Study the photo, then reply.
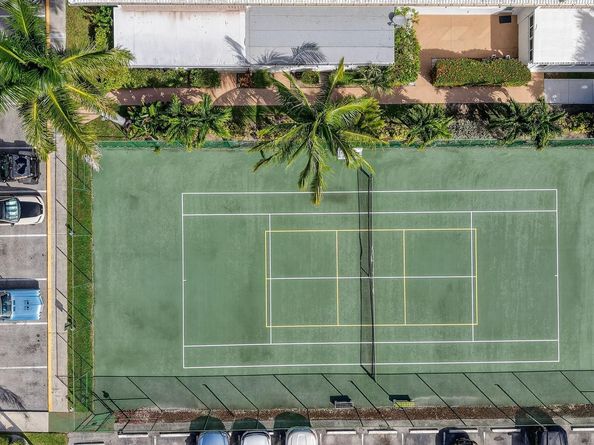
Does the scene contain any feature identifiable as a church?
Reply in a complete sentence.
No, no church is visible in the scene.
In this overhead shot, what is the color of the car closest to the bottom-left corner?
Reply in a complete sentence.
From above, the car closest to the bottom-left corner appears blue.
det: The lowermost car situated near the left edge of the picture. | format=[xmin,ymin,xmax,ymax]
[0,287,47,325]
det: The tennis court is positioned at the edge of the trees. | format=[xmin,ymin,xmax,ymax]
[94,145,594,411]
